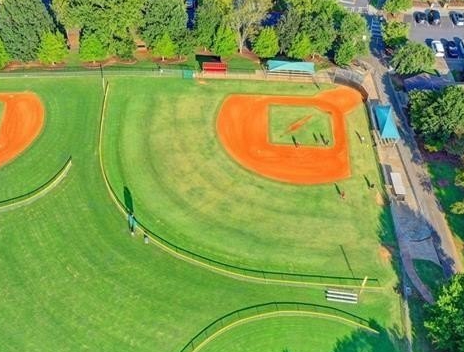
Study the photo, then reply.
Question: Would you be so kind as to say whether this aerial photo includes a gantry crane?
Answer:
No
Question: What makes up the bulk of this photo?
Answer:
grass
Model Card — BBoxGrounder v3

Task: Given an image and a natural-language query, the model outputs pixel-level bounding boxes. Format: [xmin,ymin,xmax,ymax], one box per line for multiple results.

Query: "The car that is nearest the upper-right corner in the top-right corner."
[448,9,464,28]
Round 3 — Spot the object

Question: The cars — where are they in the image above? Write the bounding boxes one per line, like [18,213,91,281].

[430,41,445,58]
[412,12,427,27]
[448,9,464,28]
[458,41,464,57]
[444,42,460,59]
[424,9,441,27]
